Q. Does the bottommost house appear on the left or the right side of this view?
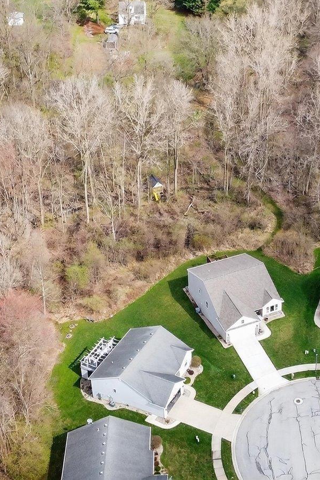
left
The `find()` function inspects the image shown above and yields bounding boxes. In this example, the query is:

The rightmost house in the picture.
[187,251,285,343]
